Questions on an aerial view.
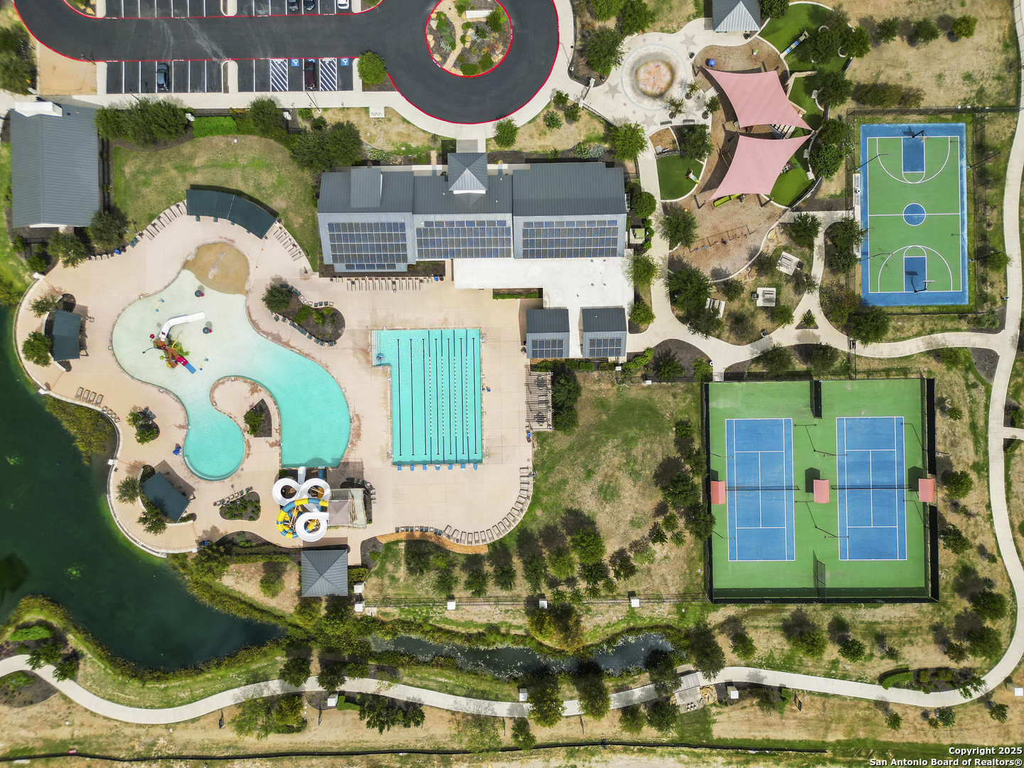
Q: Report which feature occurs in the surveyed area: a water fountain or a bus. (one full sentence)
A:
There is a water fountain in the scene.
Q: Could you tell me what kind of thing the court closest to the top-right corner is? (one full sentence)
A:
The court closest to the top-right corner in the image is a basketball court.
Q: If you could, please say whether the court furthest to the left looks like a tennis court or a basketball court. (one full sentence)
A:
I'd identify the court furthest to the left as a tennis court.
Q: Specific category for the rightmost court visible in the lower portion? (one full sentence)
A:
I'd say the rightmost court visible in the lower portion is a tennis court.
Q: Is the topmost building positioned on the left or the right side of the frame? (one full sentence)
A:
The topmost building sits on the right side.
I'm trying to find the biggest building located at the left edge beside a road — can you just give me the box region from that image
[10,100,103,230]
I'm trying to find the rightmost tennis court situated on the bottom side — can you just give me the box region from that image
[834,416,914,561]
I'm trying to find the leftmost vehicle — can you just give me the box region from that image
[156,62,170,91]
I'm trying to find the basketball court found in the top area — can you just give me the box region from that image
[861,123,968,307]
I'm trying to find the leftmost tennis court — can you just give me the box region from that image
[725,417,802,562]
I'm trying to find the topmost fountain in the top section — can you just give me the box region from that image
[622,45,686,110]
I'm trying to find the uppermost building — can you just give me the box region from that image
[709,0,761,39]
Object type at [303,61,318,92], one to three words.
car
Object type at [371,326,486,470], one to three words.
swimming pool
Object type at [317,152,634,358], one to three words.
building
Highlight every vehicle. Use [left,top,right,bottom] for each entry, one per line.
[156,62,170,91]
[337,0,349,8]
[303,0,315,9]
[287,0,300,10]
[303,61,318,92]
